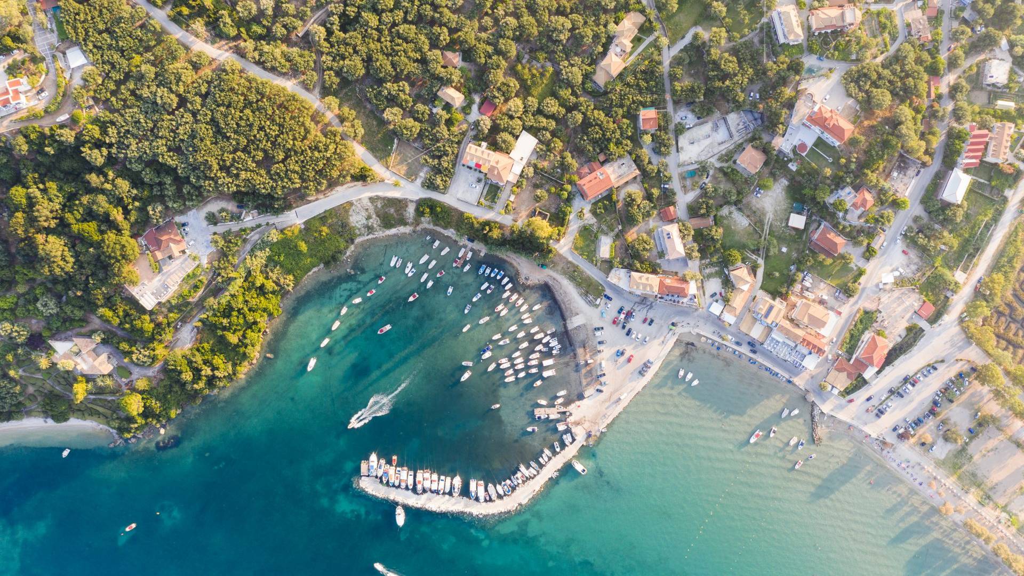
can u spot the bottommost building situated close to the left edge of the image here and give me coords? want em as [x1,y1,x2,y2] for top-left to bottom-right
[49,338,118,375]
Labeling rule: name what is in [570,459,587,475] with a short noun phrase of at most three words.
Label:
boat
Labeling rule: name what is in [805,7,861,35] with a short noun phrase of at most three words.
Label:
house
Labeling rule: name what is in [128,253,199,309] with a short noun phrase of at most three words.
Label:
building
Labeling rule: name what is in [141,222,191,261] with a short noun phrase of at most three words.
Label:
house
